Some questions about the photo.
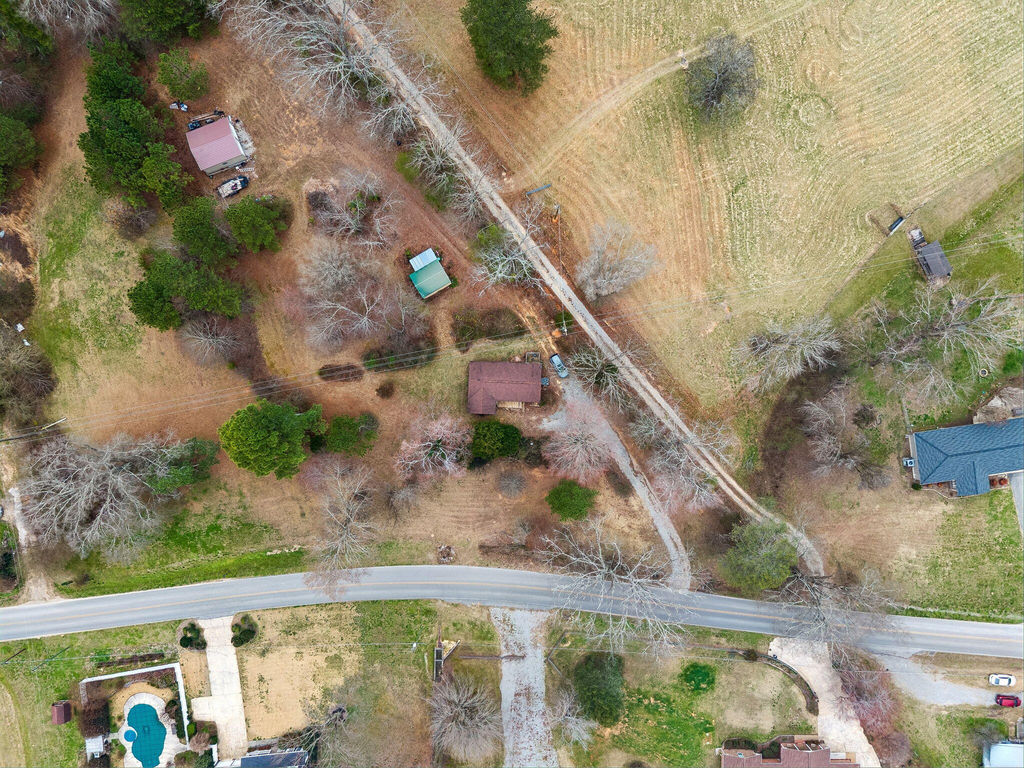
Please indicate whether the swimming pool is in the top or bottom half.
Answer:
bottom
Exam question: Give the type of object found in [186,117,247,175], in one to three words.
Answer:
shed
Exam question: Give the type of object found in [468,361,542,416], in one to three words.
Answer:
house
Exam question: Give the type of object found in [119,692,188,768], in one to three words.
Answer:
swimming pool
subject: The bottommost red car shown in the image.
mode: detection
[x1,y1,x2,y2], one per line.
[995,694,1022,708]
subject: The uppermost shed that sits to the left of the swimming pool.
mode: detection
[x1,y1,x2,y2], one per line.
[46,706,72,730]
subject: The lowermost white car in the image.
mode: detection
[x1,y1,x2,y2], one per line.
[988,674,1016,687]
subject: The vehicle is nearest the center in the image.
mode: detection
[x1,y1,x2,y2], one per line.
[549,352,568,380]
